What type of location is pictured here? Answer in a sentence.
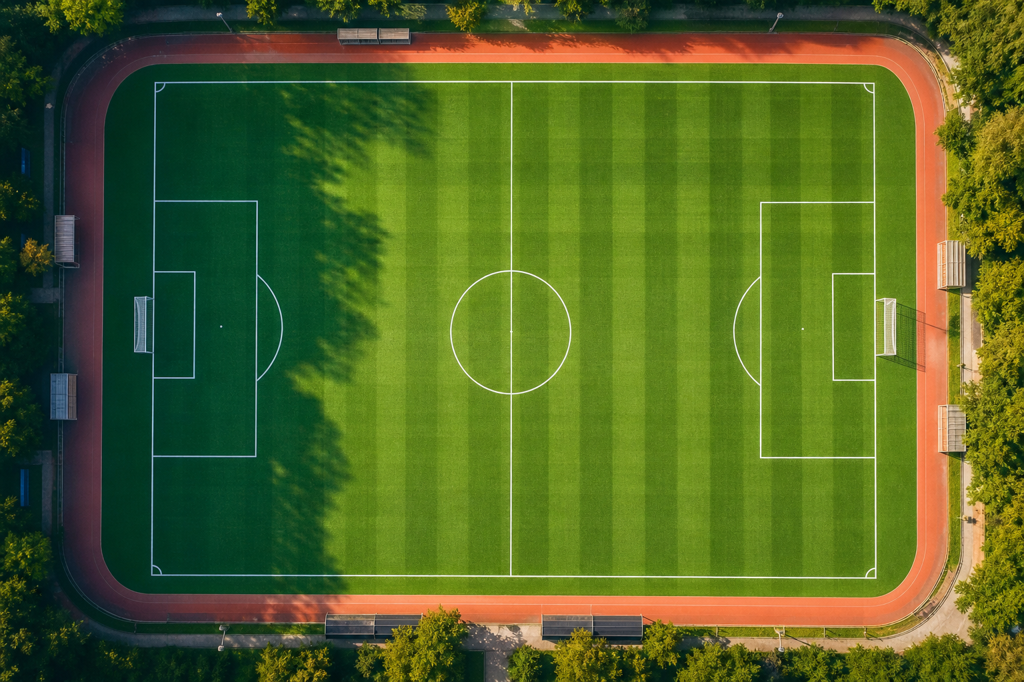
The picture captures a sports ground.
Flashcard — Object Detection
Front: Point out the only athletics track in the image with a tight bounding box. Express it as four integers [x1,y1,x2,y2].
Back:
[63,34,946,626]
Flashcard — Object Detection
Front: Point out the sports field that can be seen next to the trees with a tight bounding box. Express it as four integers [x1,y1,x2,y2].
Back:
[101,63,917,598]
